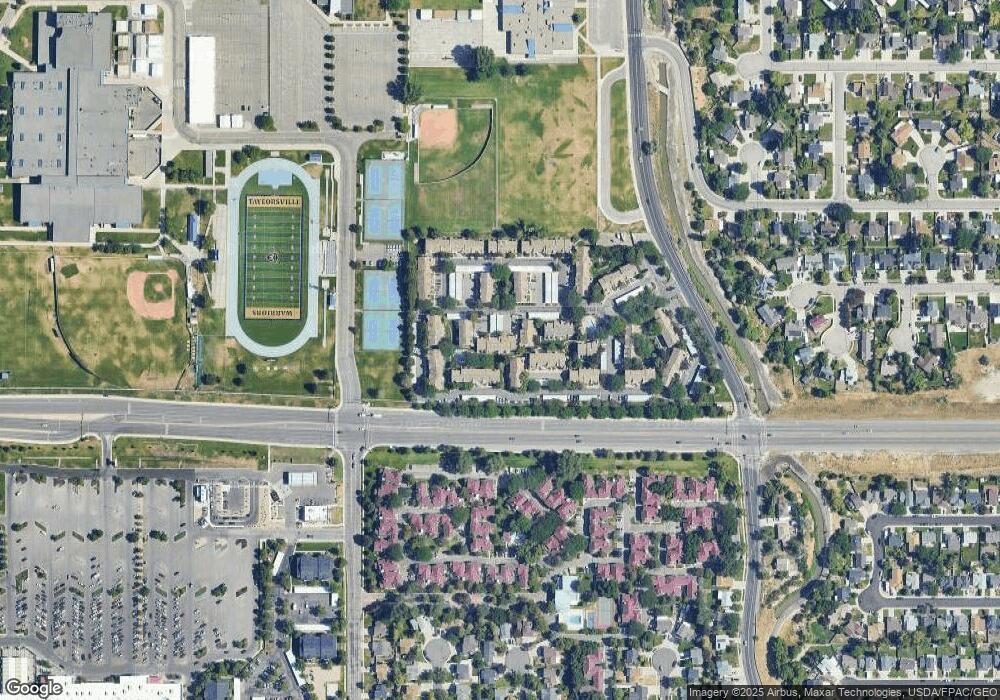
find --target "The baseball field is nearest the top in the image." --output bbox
[418,109,457,147]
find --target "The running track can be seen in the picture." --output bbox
[227,159,320,358]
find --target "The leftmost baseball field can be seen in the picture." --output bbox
[127,268,178,318]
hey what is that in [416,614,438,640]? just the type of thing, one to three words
house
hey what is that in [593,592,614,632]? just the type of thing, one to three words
sports court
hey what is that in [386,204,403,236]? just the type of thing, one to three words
tennis court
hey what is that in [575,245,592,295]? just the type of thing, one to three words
building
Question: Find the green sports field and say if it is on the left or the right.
left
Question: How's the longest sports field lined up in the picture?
from top to bottom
